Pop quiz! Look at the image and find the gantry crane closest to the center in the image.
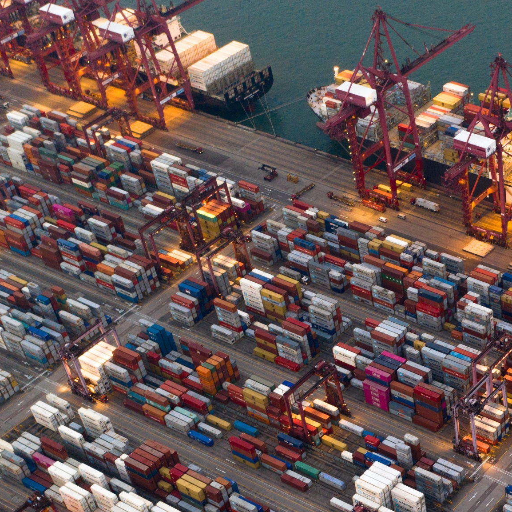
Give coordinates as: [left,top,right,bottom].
[192,228,252,300]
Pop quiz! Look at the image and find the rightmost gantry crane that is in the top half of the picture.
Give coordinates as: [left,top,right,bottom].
[426,56,512,249]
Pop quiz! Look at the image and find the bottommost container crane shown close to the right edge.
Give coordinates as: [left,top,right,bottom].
[452,375,504,458]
